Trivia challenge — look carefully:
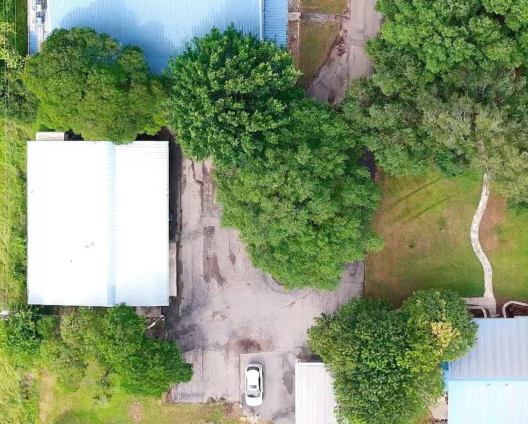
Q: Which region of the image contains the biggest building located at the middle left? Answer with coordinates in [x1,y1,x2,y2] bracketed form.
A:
[26,140,183,309]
